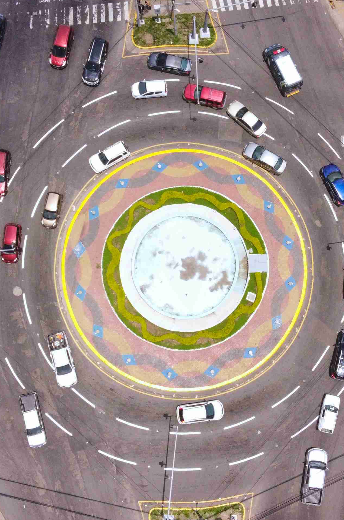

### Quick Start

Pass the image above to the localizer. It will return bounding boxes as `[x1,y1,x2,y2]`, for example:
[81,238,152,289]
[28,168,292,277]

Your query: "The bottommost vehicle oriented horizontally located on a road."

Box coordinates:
[176,399,225,424]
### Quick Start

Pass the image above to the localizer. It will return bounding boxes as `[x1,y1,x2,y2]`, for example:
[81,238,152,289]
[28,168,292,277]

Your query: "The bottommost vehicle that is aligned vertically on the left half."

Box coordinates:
[18,390,47,448]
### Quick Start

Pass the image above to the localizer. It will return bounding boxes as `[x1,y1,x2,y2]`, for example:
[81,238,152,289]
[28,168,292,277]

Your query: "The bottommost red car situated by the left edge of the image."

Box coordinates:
[0,223,22,264]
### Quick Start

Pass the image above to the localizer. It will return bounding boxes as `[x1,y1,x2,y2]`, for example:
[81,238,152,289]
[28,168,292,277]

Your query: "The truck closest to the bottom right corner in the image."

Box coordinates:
[302,445,328,507]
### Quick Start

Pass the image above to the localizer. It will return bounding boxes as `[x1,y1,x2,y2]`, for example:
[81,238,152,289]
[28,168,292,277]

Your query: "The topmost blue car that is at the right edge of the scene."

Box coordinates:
[323,165,344,206]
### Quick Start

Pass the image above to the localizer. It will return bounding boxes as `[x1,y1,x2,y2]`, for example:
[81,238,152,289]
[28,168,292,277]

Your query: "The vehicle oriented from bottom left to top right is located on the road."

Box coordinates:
[88,138,132,174]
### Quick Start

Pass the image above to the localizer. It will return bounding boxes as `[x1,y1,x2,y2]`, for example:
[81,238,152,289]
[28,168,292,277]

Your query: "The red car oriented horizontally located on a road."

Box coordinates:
[181,84,227,110]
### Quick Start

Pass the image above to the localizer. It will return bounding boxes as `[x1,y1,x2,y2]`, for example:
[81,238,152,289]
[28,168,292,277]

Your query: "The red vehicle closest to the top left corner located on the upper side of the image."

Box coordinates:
[51,27,74,69]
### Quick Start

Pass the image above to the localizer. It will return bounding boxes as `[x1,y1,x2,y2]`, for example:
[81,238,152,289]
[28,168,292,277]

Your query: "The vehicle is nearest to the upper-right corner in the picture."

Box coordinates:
[267,43,302,101]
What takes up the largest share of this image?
paved ground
